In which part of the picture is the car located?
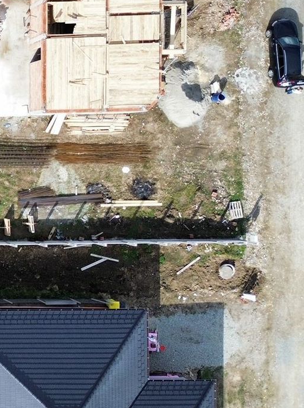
top right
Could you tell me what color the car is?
black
